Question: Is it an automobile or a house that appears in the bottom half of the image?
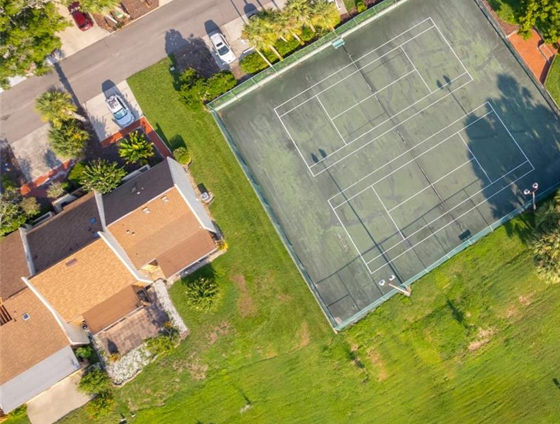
house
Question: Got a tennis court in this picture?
Yes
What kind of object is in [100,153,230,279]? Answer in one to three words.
house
